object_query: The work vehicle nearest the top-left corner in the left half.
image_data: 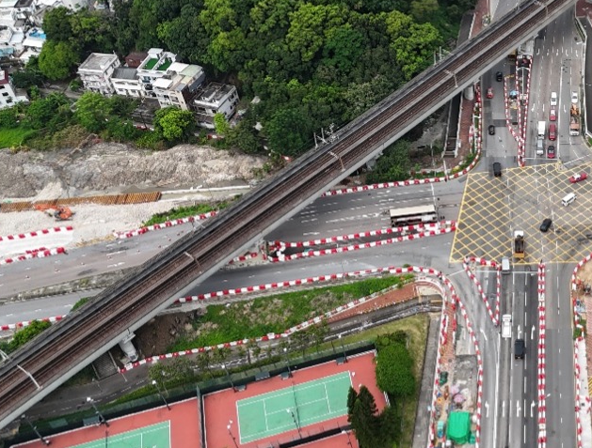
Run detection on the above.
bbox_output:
[43,193,75,218]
